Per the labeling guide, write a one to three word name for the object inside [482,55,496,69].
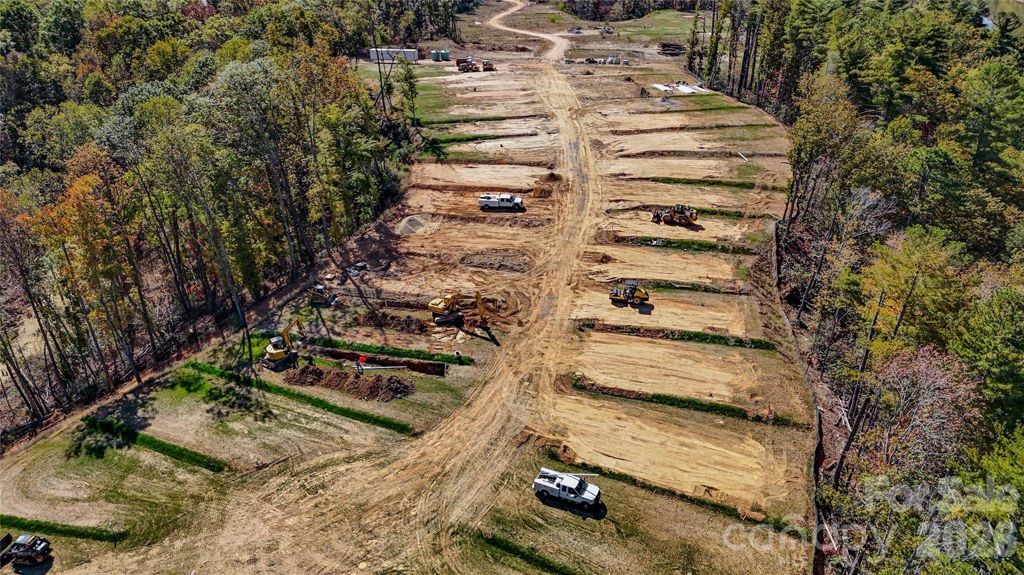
work vehicle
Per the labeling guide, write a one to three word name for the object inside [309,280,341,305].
work vehicle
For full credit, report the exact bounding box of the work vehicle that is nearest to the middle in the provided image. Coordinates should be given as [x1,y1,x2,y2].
[427,293,488,329]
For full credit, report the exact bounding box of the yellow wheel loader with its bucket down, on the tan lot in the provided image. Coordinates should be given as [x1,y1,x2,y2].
[648,195,695,222]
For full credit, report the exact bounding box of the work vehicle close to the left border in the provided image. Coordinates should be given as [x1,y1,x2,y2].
[1,526,54,570]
